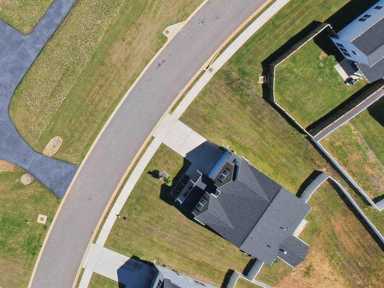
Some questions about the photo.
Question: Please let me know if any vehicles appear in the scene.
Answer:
No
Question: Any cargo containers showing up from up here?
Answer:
No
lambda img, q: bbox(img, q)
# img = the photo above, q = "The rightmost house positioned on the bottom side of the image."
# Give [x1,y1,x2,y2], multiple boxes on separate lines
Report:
[185,151,313,269]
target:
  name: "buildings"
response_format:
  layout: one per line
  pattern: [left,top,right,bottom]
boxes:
[141,264,200,288]
[334,1,384,84]
[185,151,313,269]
